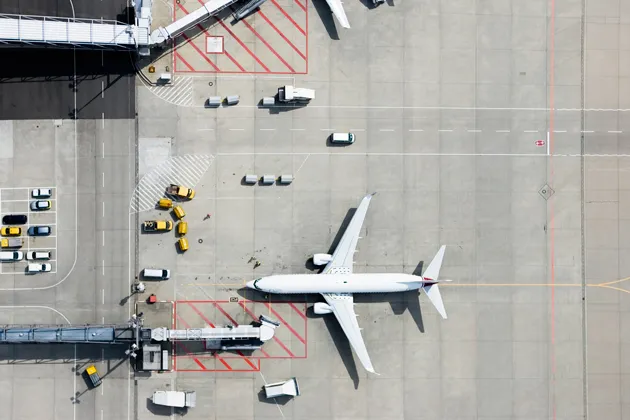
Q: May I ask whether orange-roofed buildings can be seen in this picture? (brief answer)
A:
No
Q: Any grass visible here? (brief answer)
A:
No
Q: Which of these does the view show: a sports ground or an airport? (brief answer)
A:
airport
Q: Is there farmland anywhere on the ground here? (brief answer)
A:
No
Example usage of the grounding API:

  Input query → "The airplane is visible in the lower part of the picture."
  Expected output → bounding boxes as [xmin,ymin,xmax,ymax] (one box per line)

[246,192,449,375]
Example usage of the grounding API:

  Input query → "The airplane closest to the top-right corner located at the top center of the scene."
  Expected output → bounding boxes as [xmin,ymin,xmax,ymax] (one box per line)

[326,0,349,28]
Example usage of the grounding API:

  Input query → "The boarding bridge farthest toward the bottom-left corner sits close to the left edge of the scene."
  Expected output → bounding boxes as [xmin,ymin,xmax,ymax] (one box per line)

[0,323,133,344]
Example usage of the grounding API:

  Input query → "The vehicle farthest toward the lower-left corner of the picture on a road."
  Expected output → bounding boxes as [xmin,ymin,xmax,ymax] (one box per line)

[85,365,104,389]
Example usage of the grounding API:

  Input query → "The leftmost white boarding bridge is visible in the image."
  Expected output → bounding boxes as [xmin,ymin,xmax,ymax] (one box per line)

[0,14,132,49]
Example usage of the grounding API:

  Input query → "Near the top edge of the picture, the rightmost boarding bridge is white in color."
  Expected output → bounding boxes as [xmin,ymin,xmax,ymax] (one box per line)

[148,0,239,46]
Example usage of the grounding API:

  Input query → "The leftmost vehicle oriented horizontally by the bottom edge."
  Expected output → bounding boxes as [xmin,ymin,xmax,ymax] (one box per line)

[152,391,195,408]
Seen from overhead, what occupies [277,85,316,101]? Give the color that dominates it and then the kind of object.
white vehicle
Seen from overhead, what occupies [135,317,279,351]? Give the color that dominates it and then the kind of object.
white jet bridge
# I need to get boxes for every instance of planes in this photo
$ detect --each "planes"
[246,192,449,375]
[326,0,349,28]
